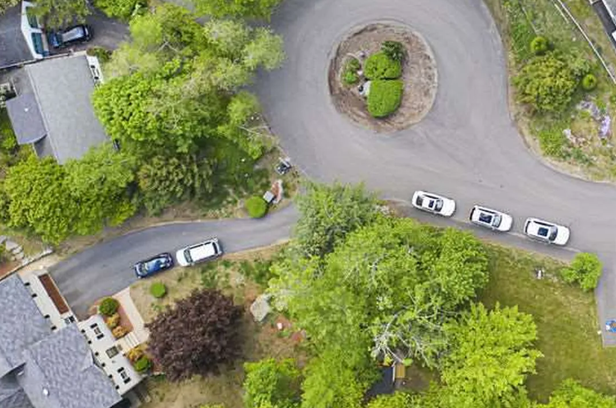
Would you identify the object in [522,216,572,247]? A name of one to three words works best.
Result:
car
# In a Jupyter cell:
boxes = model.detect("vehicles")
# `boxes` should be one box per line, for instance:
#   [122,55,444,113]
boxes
[522,216,572,247]
[134,253,176,278]
[51,23,100,48]
[409,189,458,219]
[179,235,228,266]
[466,203,515,233]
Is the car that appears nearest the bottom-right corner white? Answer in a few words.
Yes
